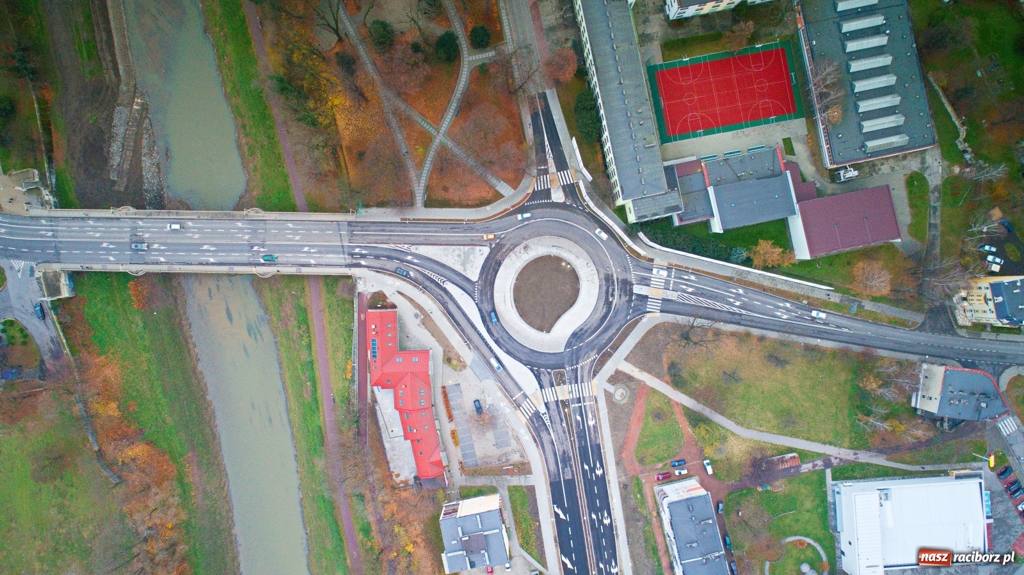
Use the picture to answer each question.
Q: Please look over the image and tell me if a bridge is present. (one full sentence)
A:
Yes, there's a bridge here.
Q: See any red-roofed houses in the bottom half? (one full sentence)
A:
Yes, you'll find a red-roofed house in the bottom half.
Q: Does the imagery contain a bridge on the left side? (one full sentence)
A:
Yes, a bridge shows up on the left side.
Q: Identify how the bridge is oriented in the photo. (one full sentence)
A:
The bridge runs from left to right in the image.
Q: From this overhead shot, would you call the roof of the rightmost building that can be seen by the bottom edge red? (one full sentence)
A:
No, from above the roof of the rightmost building that can be seen by the bottom edge looks white.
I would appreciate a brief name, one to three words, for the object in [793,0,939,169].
building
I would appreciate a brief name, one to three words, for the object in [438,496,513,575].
building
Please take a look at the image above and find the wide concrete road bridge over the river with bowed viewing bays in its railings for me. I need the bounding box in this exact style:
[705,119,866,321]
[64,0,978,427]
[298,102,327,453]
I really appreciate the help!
[38,205,358,277]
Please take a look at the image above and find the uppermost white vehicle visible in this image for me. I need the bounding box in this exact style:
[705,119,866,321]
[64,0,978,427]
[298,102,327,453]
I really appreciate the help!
[838,165,862,181]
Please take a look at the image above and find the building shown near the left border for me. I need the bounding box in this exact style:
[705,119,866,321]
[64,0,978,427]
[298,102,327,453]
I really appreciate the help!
[8,167,44,185]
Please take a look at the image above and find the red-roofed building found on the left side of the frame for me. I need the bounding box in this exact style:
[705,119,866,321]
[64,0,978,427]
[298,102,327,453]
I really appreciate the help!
[366,311,449,486]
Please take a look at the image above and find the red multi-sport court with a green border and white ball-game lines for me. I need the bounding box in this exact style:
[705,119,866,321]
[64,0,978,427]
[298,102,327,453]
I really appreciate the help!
[646,36,809,144]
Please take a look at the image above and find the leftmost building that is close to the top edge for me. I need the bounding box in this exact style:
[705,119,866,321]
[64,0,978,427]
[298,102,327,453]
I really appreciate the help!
[572,0,668,206]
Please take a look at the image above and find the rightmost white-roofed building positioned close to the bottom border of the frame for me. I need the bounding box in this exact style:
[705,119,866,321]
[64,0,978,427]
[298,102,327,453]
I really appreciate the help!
[836,464,993,575]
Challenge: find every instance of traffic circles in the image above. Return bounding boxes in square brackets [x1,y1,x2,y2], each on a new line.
[410,157,678,575]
